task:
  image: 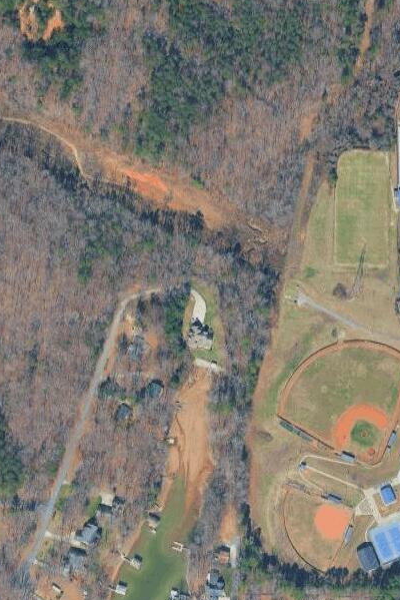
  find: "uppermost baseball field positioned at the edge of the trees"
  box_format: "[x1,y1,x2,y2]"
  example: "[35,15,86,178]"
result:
[278,339,400,467]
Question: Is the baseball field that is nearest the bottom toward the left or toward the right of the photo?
right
